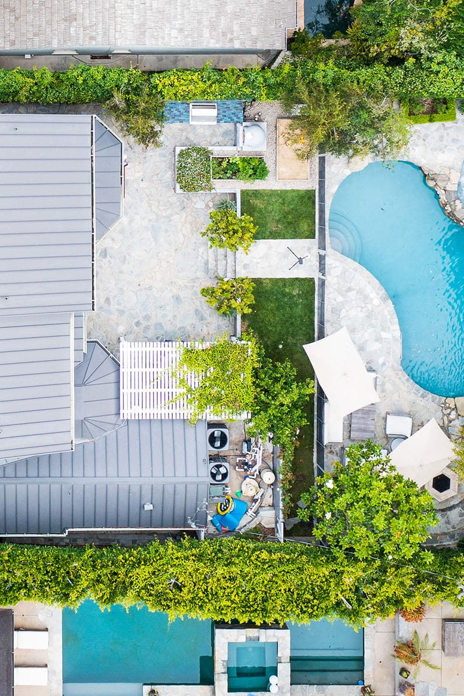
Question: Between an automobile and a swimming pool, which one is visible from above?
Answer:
swimming pool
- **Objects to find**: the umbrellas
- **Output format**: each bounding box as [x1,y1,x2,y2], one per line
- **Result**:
[303,327,379,419]
[386,417,458,485]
